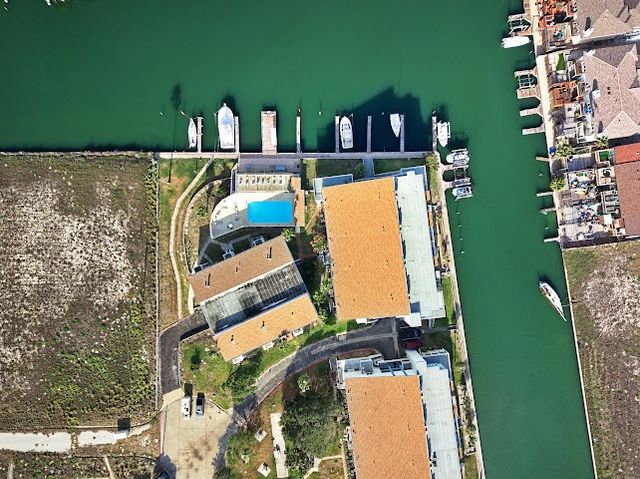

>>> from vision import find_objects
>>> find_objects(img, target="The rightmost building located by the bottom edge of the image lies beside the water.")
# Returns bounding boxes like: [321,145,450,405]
[336,343,467,479]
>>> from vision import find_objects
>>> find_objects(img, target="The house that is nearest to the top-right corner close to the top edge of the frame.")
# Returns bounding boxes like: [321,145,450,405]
[563,0,640,50]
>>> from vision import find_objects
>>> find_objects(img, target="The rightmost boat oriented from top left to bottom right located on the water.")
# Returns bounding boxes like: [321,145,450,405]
[536,281,575,318]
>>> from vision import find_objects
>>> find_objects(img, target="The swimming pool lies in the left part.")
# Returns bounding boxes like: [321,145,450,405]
[209,192,295,239]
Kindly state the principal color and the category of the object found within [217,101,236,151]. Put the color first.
white boat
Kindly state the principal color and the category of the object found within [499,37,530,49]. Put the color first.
white boat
